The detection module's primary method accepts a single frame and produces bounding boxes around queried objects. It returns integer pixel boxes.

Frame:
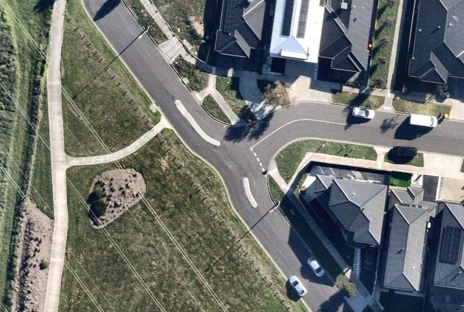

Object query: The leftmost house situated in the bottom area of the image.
[313,174,389,245]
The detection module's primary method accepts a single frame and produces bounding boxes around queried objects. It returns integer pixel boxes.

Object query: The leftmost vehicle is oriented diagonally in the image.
[288,274,307,298]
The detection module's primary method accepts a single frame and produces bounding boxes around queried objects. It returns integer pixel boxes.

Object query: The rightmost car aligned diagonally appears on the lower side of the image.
[307,256,326,277]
